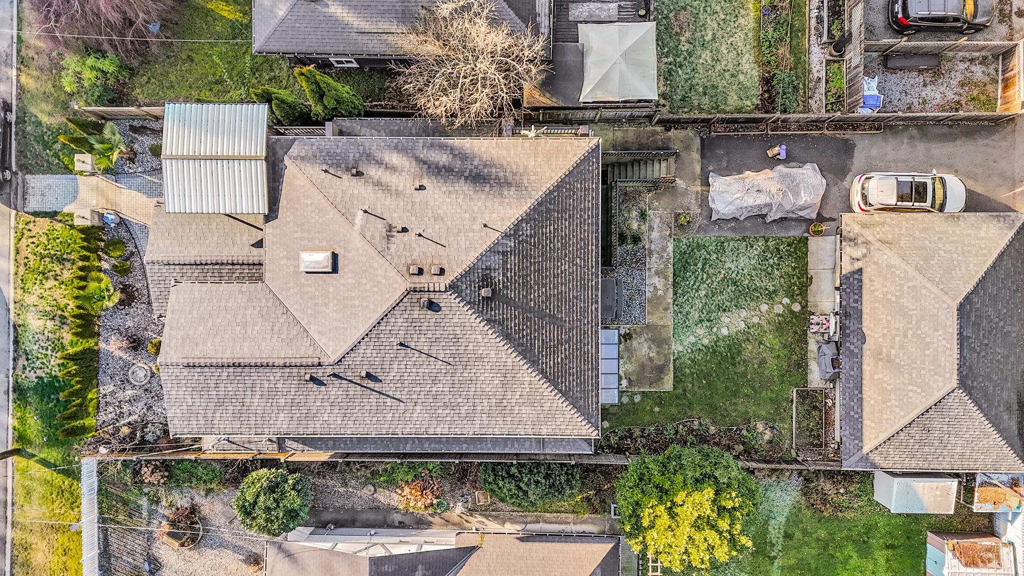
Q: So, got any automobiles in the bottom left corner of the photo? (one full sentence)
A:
No, no automobile appears in the bottom left corner of the photo.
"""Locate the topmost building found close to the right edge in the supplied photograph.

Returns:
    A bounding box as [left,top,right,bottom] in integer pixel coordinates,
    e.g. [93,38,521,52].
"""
[836,211,1024,473]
